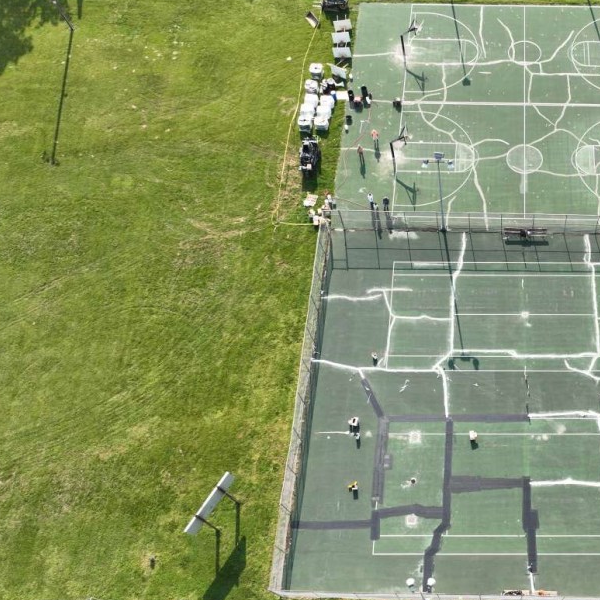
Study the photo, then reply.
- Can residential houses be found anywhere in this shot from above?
No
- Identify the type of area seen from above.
sports ground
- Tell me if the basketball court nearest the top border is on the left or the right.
right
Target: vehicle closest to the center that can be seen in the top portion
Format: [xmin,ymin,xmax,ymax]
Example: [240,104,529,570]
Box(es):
[295,142,319,171]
